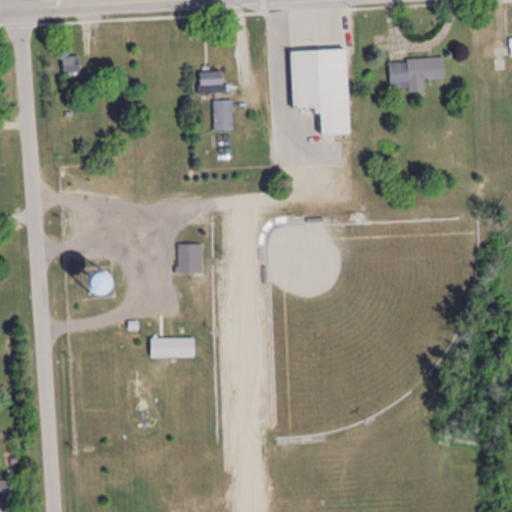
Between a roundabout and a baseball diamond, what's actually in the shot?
baseball diamond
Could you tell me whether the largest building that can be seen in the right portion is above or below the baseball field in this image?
above it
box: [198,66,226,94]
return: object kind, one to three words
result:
house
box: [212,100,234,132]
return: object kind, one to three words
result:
building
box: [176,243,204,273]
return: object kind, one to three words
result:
building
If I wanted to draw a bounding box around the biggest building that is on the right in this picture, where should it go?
[290,48,351,133]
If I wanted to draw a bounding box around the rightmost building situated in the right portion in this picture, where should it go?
[389,54,446,92]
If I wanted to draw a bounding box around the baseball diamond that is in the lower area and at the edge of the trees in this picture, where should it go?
[262,212,480,446]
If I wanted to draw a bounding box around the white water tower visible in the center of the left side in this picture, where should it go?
[88,268,118,298]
